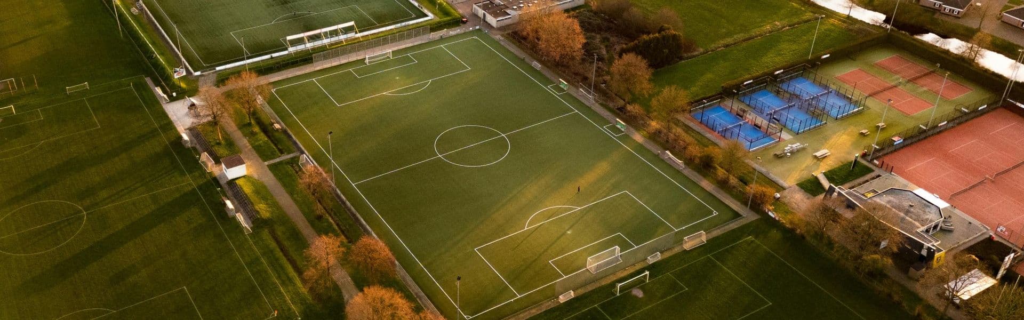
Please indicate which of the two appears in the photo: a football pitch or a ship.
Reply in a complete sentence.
Of the two, only a football pitch appears.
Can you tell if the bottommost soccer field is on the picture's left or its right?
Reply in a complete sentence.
The bottommost soccer field appears in the right half of the scene.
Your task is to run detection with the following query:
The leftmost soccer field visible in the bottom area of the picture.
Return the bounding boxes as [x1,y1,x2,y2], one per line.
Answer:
[0,75,301,320]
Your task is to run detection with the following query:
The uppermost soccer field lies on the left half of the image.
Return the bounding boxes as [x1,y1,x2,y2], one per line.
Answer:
[144,0,427,72]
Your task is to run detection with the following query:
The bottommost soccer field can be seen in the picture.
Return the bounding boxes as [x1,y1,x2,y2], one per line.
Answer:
[554,231,872,320]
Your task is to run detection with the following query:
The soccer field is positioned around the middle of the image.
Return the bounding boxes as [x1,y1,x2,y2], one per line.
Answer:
[256,29,743,320]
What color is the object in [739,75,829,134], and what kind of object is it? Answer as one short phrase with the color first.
blue sports court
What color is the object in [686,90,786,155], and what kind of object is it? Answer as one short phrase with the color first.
blue sports court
